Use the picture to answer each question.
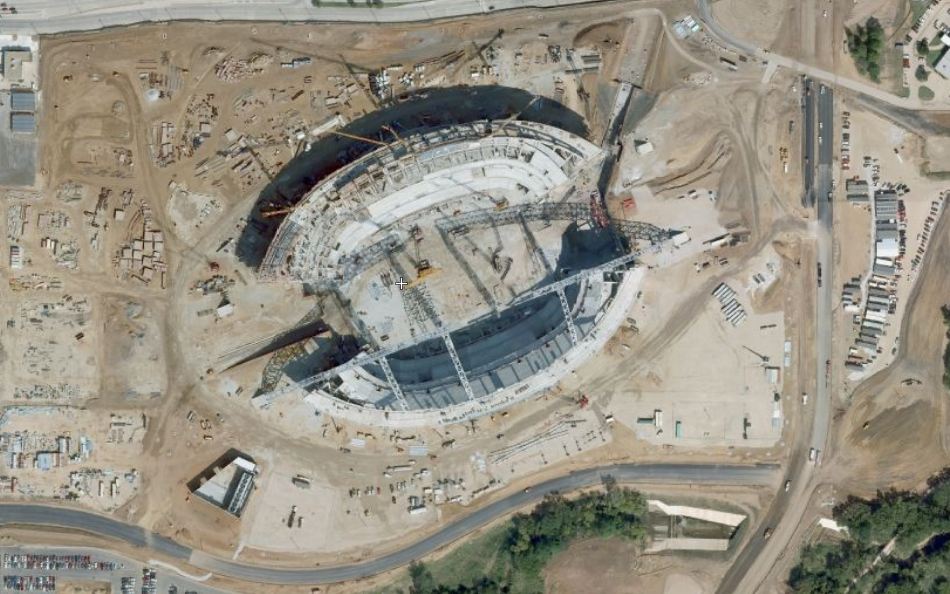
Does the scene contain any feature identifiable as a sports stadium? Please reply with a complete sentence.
Yes, I can see a sports stadium in this picture.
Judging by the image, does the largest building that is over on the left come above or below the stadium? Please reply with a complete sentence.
It's below the stadium that the largest building that is over on the left shows up.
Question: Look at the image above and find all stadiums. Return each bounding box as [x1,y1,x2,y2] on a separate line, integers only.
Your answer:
[214,82,680,427]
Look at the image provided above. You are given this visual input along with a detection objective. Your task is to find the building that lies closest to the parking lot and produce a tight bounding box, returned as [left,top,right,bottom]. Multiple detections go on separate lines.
[191,457,258,518]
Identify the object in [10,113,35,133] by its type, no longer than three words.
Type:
shed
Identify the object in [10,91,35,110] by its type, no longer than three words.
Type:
shed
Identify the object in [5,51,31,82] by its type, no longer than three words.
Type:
building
